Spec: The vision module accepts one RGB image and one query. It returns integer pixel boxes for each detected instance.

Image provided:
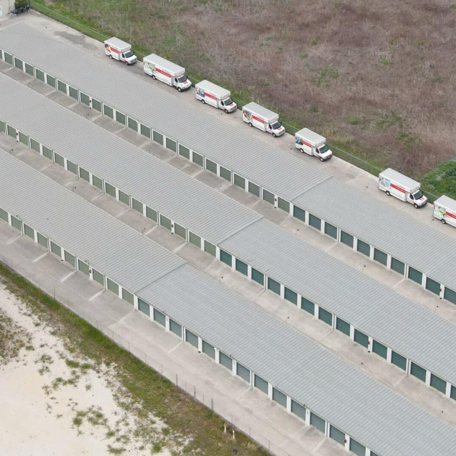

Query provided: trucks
[428,195,456,229]
[193,80,236,114]
[374,168,428,209]
[103,36,138,65]
[290,128,333,162]
[239,103,285,138]
[142,54,191,91]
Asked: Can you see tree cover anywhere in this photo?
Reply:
No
